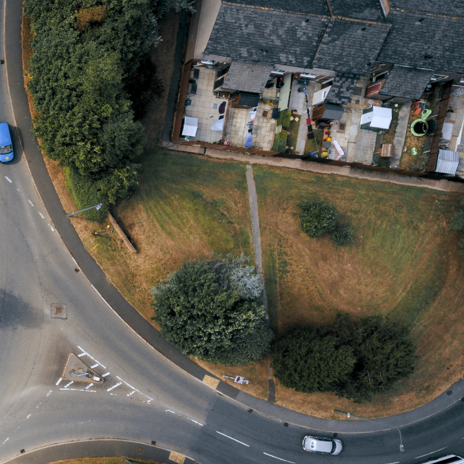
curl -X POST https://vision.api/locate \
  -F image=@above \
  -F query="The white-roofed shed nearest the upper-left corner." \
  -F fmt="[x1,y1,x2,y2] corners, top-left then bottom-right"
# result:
[178,116,199,139]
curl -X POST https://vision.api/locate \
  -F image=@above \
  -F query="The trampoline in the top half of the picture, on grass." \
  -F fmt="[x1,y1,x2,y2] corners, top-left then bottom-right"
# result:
[409,120,428,136]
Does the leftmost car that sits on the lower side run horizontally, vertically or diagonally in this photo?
horizontally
